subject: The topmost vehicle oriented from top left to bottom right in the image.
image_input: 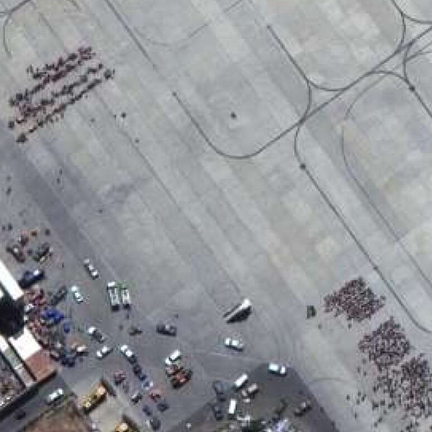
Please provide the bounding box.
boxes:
[8,241,24,261]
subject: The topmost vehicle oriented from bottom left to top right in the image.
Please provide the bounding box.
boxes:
[32,244,51,261]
